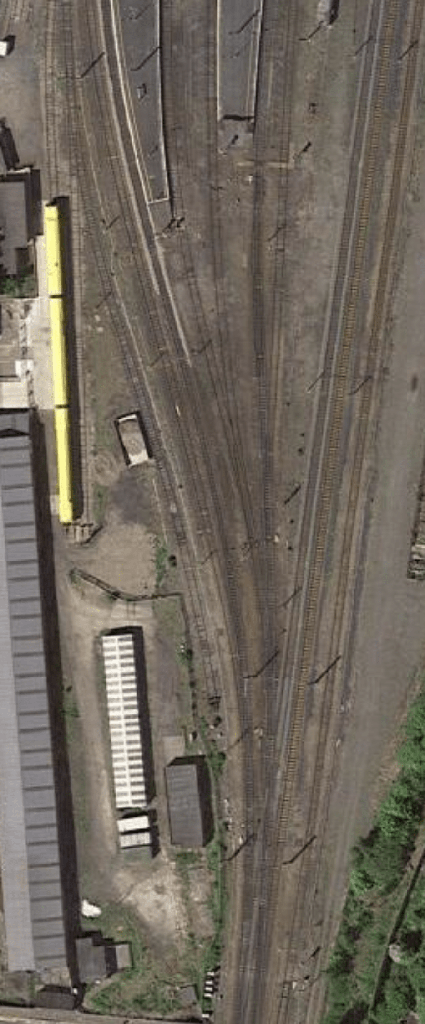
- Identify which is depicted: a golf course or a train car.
train car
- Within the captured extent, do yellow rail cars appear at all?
Yes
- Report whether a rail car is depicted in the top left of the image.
Yes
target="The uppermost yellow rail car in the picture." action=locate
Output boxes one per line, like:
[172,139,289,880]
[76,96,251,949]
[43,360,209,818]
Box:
[45,206,63,295]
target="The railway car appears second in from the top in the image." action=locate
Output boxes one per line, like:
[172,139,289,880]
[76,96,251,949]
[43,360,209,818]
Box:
[50,297,69,405]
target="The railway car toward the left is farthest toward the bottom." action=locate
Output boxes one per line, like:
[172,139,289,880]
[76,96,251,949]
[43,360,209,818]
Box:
[55,407,75,523]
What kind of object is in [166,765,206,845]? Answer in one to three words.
shed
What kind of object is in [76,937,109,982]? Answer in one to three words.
shed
